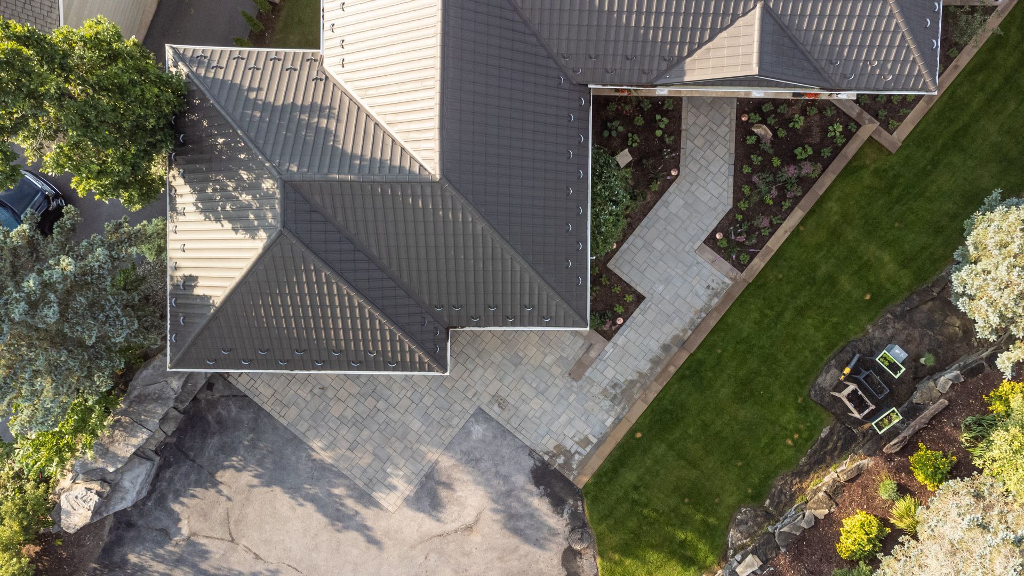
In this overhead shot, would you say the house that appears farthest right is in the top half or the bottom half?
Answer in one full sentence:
The house that appears farthest right is in the top half of the image.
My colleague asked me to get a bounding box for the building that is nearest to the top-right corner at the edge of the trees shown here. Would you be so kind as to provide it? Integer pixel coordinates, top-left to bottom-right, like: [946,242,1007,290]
[166,0,941,373]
